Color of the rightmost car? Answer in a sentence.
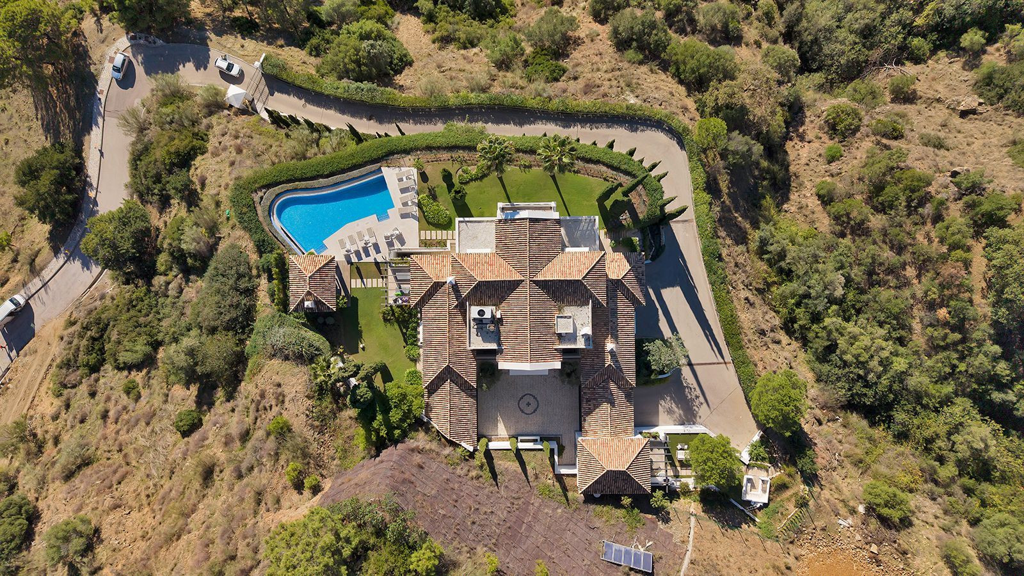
The rightmost car is white.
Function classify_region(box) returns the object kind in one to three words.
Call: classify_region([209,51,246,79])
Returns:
car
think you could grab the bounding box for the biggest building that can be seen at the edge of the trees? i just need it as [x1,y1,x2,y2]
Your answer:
[409,199,652,495]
